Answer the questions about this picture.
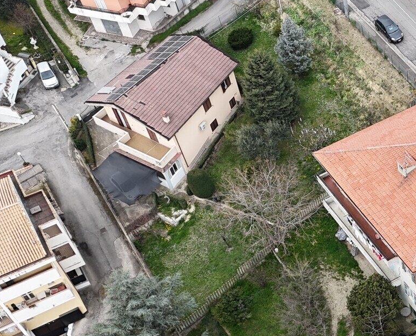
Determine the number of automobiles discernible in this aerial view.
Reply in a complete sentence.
In total, 2 automobiles can be seen.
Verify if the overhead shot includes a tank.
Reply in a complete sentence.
No, I can see no tank in this picture.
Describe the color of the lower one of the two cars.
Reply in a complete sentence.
In this view, the lower one of the two cars is white.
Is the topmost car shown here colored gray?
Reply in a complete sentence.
Yes, the topmost car is gray.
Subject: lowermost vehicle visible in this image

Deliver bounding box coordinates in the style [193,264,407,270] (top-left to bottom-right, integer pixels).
[35,61,61,90]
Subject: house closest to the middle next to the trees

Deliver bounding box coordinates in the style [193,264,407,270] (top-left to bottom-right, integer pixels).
[82,29,247,189]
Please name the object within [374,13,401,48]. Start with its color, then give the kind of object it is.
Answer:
gray car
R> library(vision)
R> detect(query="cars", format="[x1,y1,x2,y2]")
[374,13,401,48]
[35,61,61,90]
